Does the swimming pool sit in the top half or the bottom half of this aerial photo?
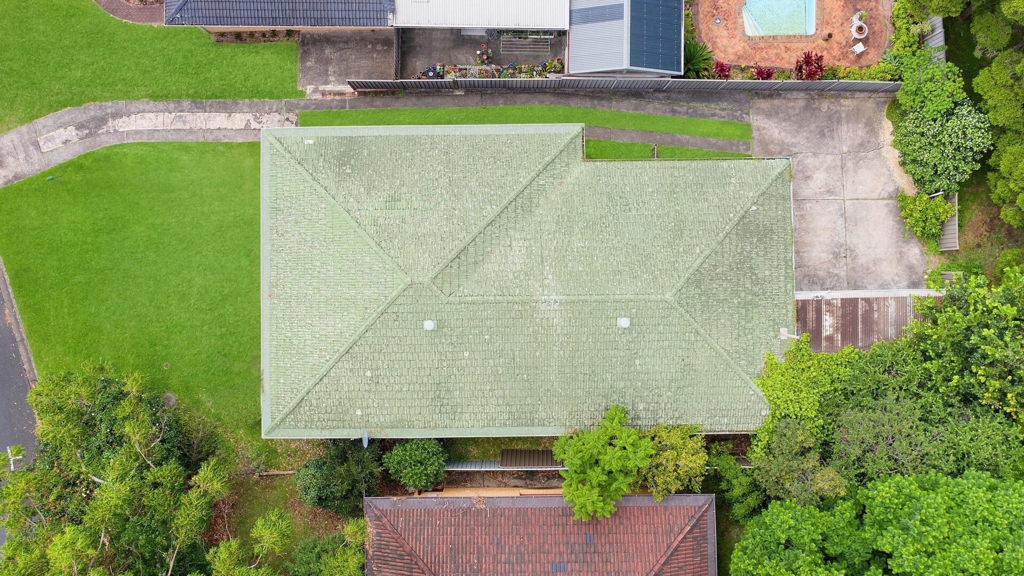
top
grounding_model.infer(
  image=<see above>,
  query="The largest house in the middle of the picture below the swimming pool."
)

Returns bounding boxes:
[259,122,799,442]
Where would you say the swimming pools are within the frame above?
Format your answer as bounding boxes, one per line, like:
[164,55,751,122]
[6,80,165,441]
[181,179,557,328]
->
[733,0,827,45]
